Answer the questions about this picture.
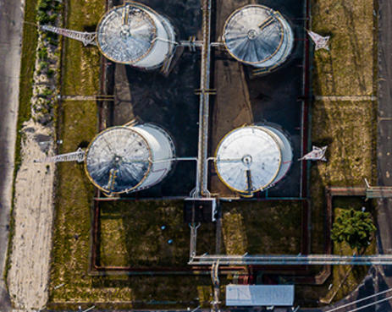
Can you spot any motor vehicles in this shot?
No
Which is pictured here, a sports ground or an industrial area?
industrial area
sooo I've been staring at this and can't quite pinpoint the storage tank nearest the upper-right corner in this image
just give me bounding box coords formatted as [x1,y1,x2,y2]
[221,4,296,69]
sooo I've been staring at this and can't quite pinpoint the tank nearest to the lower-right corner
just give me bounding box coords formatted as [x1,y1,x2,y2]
[213,122,293,198]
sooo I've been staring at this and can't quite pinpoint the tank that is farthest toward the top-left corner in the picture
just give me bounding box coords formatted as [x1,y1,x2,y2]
[93,0,177,72]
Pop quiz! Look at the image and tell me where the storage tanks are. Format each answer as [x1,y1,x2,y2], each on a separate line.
[221,4,296,69]
[213,122,293,198]
[93,0,177,72]
[82,124,175,199]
